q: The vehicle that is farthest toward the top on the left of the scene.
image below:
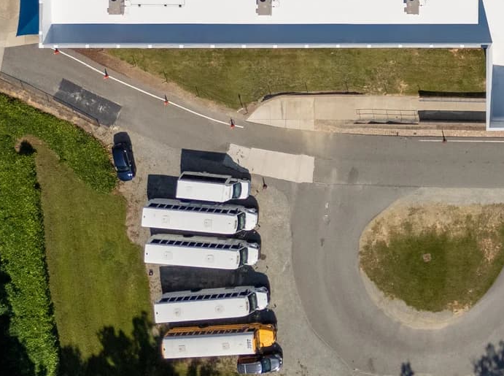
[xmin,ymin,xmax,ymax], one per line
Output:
[113,137,137,182]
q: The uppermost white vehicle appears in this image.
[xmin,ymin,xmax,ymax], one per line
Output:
[177,174,255,206]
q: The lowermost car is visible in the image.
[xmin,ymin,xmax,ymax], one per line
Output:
[237,352,283,374]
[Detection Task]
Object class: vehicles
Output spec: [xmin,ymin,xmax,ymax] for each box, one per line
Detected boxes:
[237,352,283,374]
[154,287,274,321]
[177,174,255,206]
[113,137,137,182]
[145,235,263,271]
[162,322,281,357]
[143,201,262,236]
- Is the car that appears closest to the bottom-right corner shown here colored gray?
Yes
